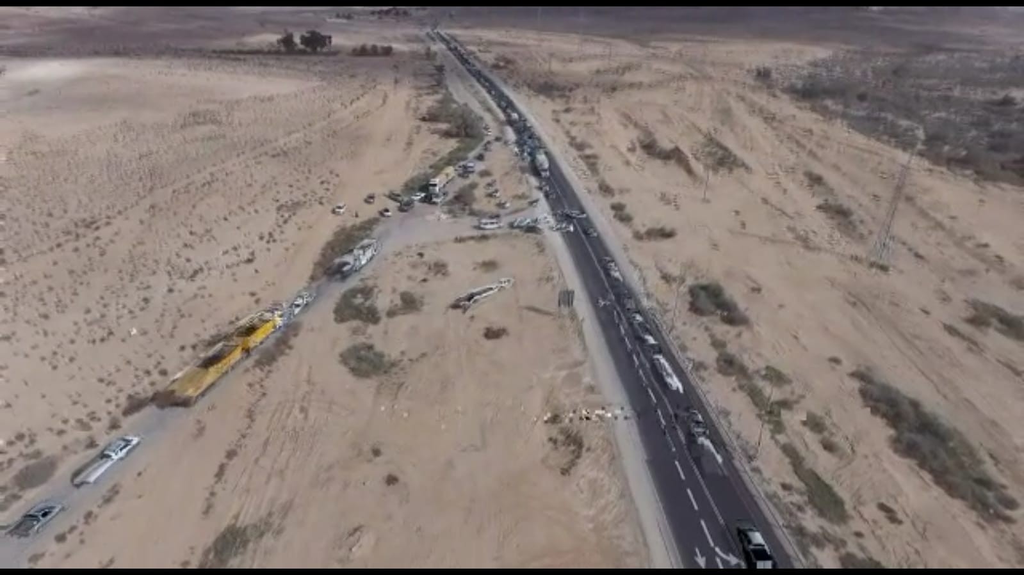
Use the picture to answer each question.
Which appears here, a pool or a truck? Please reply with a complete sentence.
Of the two, only a truck appears.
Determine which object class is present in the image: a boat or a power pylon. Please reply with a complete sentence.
It is a power pylon that can be seen here.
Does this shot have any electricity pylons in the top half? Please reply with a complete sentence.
Yes, you'll find an electricity pylon in the top half.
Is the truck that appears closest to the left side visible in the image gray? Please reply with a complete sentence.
Yes, the truck that appears closest to the left side is indeed gray.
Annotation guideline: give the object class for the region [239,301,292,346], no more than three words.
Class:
truck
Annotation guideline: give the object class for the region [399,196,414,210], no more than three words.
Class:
car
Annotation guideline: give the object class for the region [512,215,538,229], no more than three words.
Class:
vehicle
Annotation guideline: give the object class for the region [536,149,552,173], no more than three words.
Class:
vehicle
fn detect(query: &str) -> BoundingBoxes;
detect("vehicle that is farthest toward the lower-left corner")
[0,495,64,539]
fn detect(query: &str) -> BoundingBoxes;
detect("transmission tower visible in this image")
[866,130,931,267]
